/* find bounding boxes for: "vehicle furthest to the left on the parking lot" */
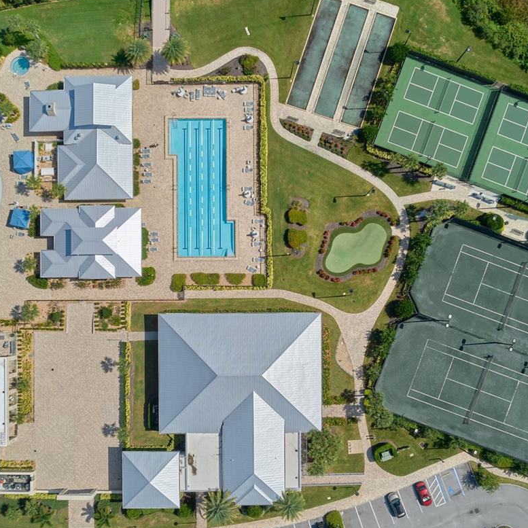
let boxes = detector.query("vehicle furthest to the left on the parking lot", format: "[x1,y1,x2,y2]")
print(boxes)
[387,491,405,518]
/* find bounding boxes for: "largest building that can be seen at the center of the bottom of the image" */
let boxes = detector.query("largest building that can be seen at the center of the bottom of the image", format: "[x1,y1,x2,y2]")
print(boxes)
[158,312,322,506]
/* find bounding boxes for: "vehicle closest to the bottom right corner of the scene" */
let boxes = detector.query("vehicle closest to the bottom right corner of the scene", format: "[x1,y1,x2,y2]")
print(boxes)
[414,480,432,507]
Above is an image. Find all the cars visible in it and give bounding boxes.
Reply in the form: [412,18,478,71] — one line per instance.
[414,480,432,507]
[387,491,405,518]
